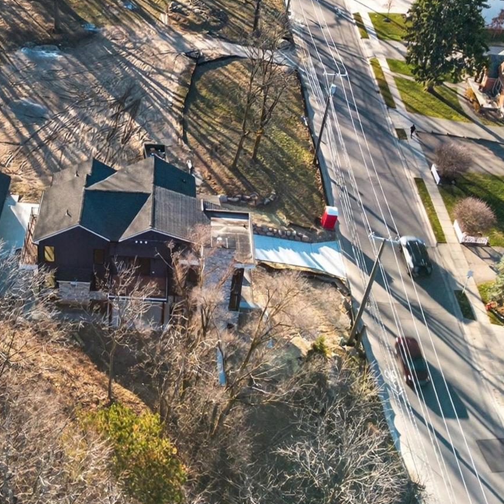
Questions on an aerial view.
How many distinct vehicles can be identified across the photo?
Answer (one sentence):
My tally gives 2 vehicles in this view.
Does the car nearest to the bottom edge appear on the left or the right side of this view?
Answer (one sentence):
It is on the right.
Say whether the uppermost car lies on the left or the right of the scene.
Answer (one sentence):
The uppermost car sits on the right side.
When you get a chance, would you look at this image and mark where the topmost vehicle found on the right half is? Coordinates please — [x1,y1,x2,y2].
[401,231,435,282]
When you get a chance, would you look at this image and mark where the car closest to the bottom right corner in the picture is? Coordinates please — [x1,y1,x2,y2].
[396,332,435,394]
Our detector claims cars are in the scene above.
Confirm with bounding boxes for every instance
[401,231,435,282]
[396,332,435,394]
